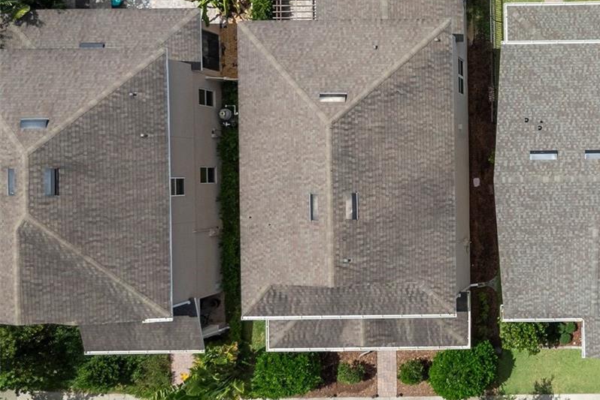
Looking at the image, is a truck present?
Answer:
No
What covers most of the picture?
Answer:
buildings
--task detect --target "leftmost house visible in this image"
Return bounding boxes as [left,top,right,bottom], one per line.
[0,8,264,354]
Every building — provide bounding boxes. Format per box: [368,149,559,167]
[0,8,264,354]
[236,0,485,352]
[494,1,600,359]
